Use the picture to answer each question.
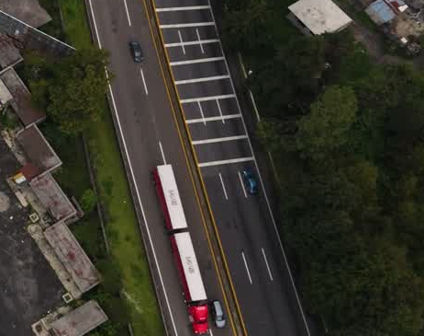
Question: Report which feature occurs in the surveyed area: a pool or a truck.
truck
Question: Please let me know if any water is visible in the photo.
No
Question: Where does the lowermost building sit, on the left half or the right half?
left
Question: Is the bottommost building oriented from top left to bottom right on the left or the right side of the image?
left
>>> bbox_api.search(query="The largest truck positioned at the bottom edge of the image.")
[165,232,207,324]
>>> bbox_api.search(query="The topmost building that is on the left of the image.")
[0,0,51,28]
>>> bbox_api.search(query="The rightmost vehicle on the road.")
[241,170,259,196]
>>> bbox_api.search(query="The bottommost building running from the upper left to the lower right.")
[43,222,101,293]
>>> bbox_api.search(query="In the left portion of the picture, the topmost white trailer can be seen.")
[151,166,187,230]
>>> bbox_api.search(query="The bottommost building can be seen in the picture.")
[49,300,108,336]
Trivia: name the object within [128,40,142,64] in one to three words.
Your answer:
car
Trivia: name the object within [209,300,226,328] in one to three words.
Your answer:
car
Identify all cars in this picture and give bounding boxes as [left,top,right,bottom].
[128,40,142,64]
[209,300,226,328]
[241,170,259,196]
